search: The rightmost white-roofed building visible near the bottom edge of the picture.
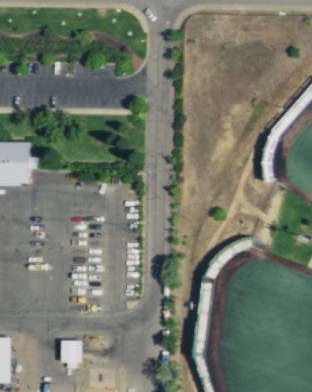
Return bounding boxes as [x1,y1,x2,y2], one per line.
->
[62,340,84,376]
